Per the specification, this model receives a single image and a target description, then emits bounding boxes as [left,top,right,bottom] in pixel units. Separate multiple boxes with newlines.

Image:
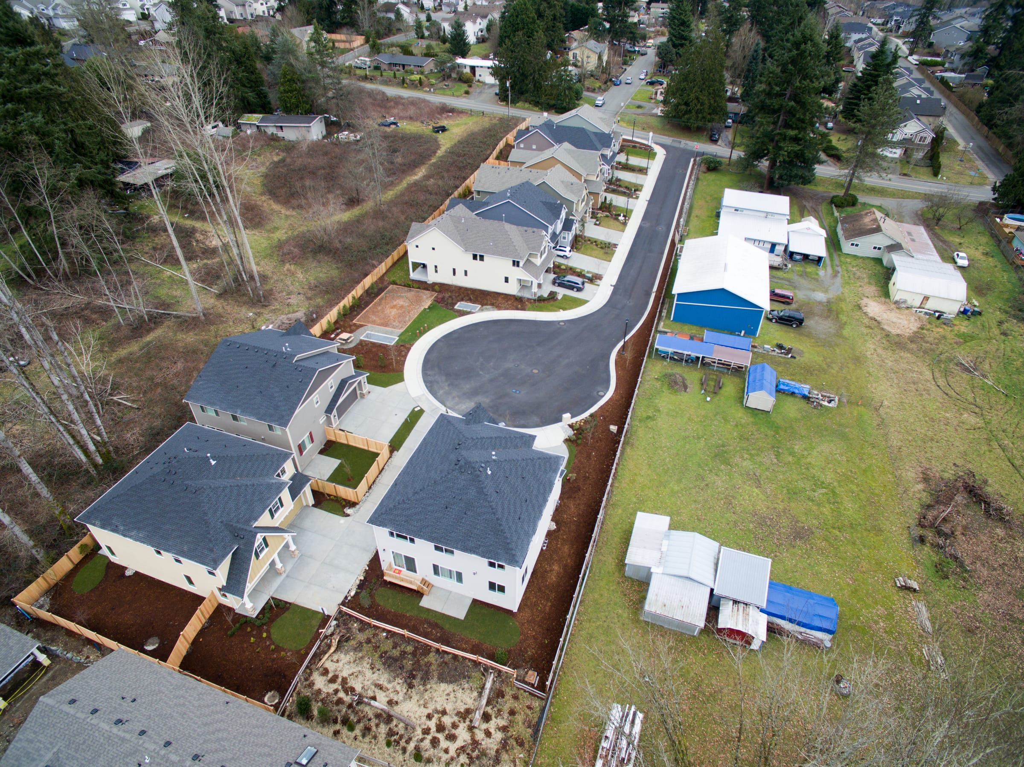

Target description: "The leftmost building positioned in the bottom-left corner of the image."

[0,622,56,680]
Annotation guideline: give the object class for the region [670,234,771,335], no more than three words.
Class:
building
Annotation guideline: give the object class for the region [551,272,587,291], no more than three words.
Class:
car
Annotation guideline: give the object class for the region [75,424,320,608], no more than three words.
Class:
house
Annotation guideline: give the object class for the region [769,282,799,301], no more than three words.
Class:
car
